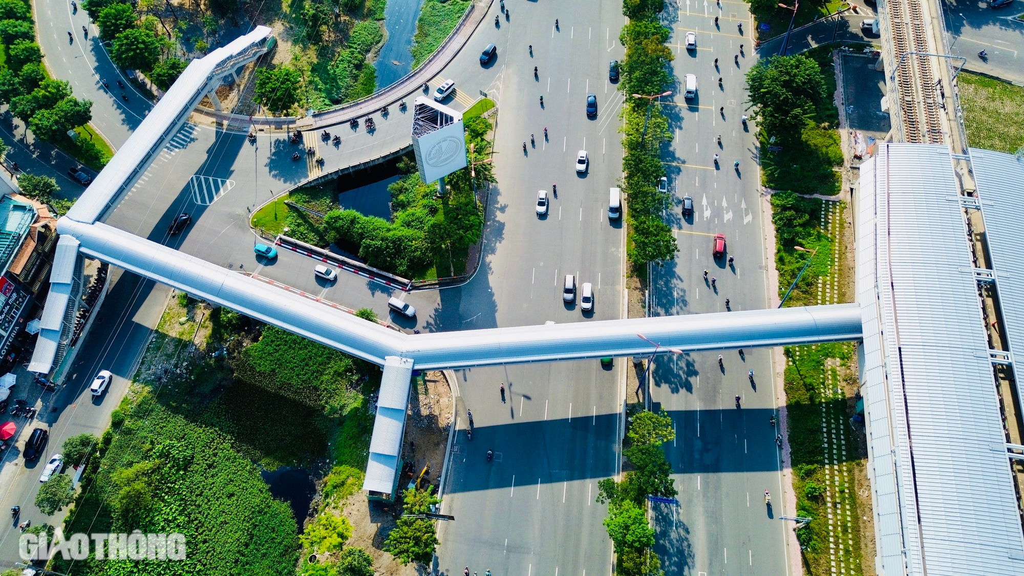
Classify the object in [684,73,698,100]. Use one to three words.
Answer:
vehicle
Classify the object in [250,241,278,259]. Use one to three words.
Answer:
car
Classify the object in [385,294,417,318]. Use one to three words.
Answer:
car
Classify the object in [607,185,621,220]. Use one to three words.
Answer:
vehicle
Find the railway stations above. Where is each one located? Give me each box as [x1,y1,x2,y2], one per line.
[849,136,1024,576]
